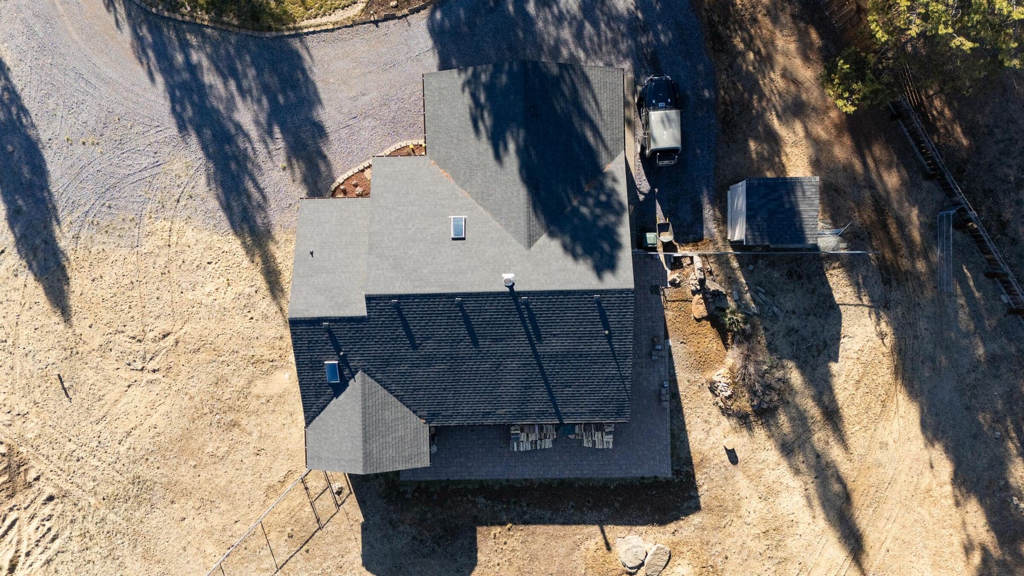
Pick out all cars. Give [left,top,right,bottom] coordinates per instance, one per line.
[636,71,683,164]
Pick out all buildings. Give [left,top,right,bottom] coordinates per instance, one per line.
[726,178,821,248]
[288,58,636,475]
